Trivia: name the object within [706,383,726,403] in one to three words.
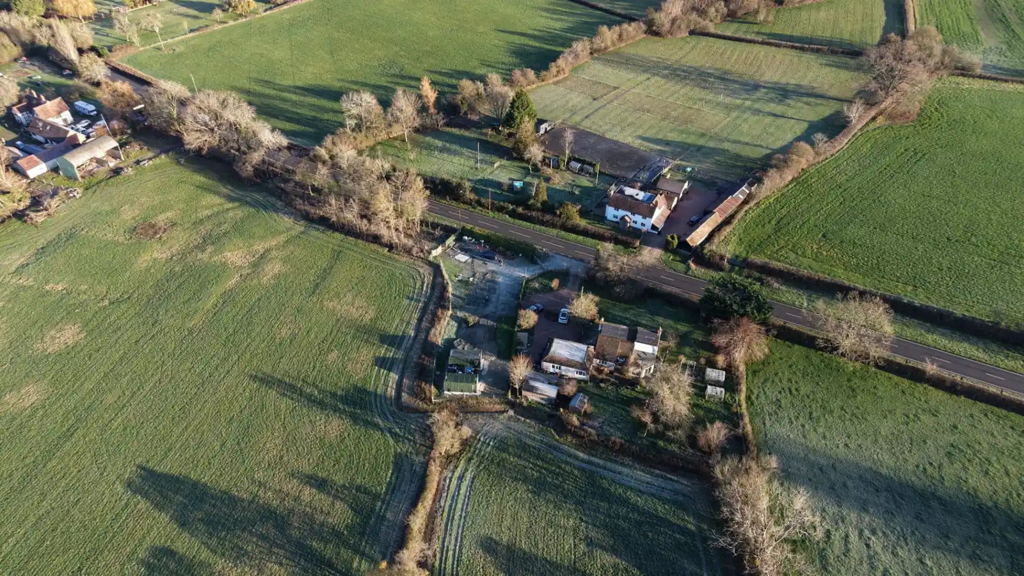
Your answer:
greenhouse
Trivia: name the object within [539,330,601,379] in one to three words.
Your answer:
house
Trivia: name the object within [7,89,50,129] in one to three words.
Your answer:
house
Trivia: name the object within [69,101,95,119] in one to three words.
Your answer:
camper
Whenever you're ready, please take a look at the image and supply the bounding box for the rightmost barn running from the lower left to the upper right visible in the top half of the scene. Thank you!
[682,175,757,253]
